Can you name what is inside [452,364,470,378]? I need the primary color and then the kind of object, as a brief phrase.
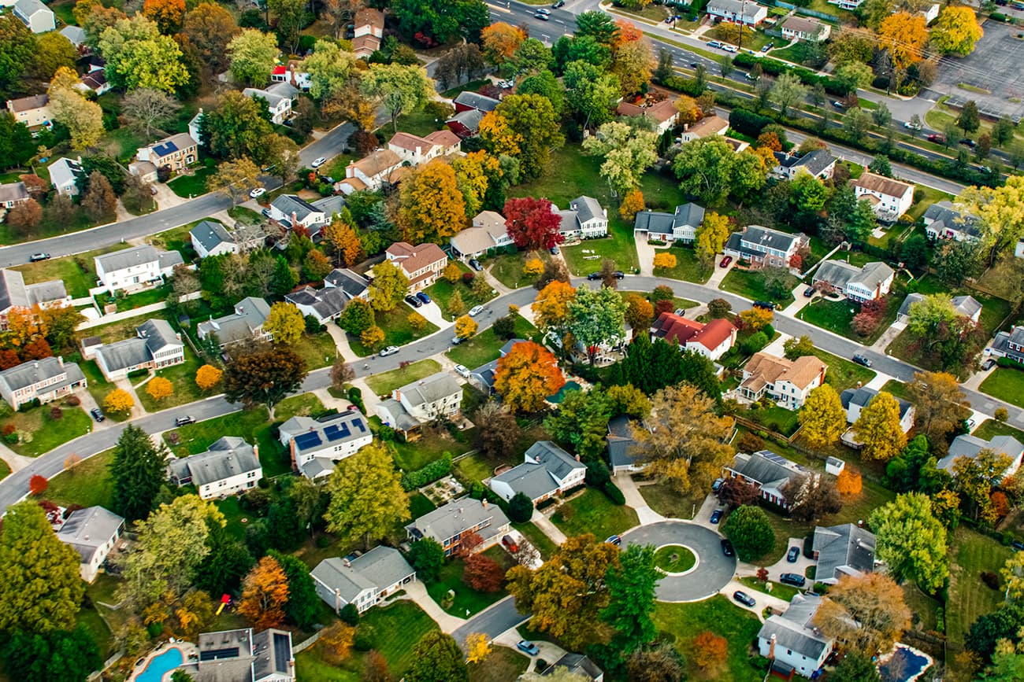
white car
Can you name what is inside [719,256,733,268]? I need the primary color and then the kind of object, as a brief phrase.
red vehicle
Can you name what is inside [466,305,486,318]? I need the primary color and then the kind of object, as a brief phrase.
white vehicle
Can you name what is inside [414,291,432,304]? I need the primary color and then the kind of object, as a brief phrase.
blue vehicle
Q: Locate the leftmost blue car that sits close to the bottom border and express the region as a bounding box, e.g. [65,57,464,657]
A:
[513,639,542,658]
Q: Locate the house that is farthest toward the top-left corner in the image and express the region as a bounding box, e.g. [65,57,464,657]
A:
[8,0,58,34]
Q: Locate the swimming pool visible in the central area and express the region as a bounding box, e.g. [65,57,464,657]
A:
[540,375,591,409]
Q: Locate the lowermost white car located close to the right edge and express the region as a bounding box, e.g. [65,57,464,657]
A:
[963,416,980,431]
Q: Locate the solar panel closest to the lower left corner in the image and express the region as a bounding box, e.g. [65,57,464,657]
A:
[201,648,239,661]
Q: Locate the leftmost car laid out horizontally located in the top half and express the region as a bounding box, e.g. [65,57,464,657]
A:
[30,251,51,263]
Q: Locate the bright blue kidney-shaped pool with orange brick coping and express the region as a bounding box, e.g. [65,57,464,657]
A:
[125,642,199,682]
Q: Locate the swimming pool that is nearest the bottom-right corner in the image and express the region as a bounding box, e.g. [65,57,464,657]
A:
[873,642,933,682]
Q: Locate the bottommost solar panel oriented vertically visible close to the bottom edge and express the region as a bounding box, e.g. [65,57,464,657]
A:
[274,634,289,673]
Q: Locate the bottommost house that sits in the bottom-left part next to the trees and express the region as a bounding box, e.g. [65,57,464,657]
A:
[198,629,300,682]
